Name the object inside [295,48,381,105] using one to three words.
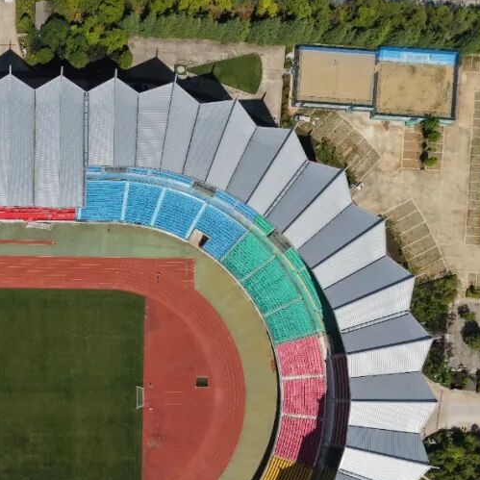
sports court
